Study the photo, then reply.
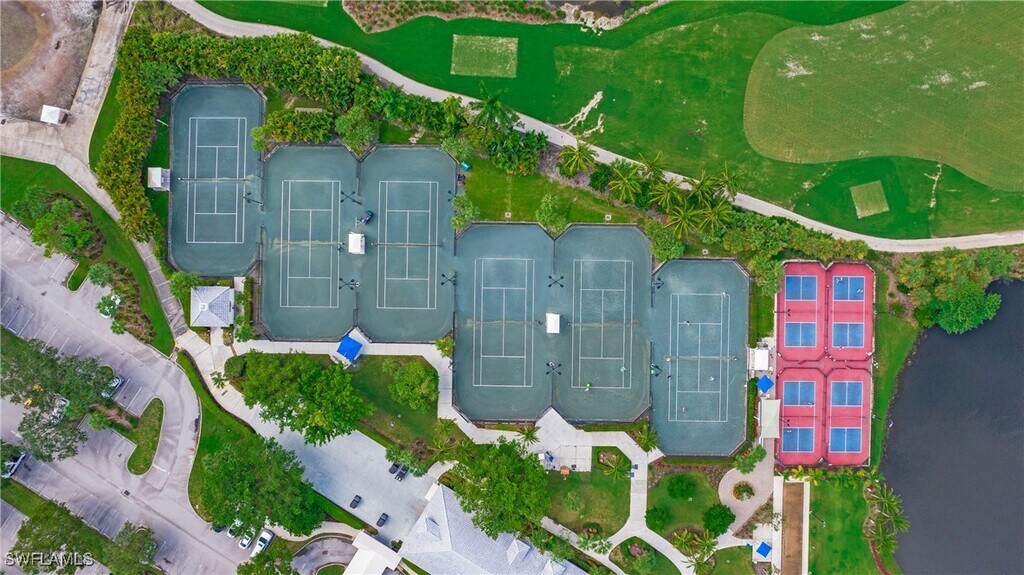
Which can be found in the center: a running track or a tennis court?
tennis court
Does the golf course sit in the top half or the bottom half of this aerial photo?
top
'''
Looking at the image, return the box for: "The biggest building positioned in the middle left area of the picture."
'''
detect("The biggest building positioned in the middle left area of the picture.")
[190,287,234,327]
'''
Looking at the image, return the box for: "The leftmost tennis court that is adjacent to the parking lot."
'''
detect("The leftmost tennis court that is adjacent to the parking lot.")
[168,84,263,275]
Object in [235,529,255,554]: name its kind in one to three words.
car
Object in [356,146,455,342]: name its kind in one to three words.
tennis court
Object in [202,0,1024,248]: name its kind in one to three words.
golf course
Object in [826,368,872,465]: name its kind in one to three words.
sports court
